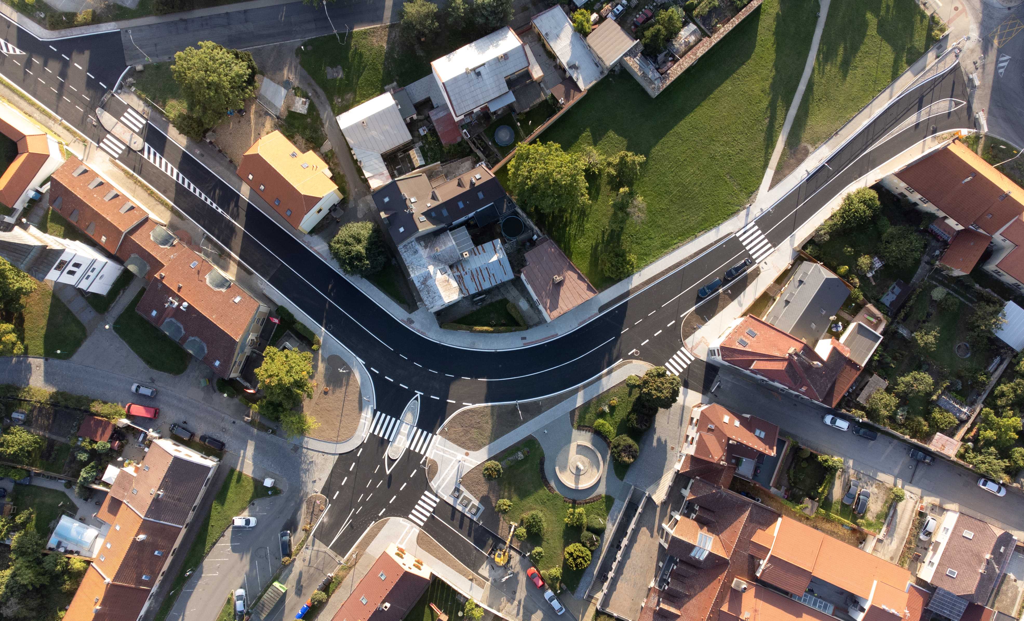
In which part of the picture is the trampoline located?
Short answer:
top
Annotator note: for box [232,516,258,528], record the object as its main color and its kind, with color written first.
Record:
white vehicle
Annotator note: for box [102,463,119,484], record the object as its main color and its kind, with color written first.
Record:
white gazebo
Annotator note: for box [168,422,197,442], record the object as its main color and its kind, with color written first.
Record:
black car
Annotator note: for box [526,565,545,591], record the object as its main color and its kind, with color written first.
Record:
red car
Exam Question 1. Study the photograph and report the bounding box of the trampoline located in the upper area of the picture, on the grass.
[494,126,514,147]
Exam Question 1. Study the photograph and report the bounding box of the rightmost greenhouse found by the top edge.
[668,20,701,57]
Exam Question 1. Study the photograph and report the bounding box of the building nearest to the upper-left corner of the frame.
[0,98,70,214]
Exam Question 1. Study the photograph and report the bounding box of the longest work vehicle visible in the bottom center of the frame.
[491,528,515,572]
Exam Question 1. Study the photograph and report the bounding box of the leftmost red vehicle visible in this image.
[126,402,161,419]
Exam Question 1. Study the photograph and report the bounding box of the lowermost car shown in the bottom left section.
[233,588,248,615]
